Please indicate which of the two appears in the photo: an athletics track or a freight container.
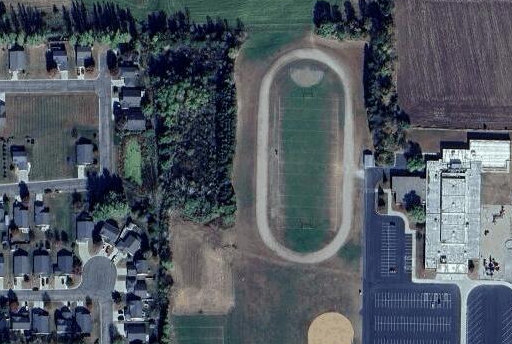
athletics track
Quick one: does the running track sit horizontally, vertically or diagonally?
vertically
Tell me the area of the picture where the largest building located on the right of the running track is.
right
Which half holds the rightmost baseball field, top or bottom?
bottom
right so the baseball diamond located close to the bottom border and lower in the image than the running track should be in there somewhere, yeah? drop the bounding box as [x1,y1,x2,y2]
[308,313,354,344]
